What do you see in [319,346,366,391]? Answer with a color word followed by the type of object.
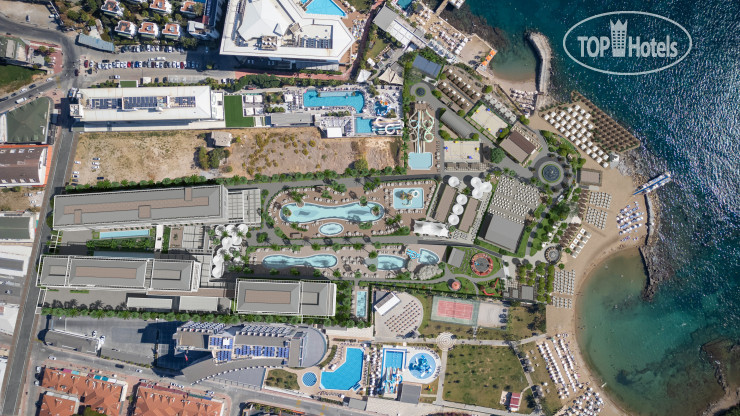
blue swimming pool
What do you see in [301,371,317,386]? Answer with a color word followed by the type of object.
blue swimming pool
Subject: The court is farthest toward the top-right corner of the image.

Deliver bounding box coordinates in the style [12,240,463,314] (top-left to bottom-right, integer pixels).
[470,103,509,141]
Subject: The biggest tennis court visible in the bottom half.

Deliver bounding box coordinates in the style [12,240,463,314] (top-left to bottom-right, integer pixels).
[431,294,481,328]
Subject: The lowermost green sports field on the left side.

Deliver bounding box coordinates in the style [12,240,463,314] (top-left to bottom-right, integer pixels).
[224,95,254,128]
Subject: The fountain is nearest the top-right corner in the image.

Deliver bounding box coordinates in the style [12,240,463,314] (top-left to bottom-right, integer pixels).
[541,162,562,183]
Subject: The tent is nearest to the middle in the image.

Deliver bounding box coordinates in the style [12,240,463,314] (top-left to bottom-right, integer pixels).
[414,220,449,235]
